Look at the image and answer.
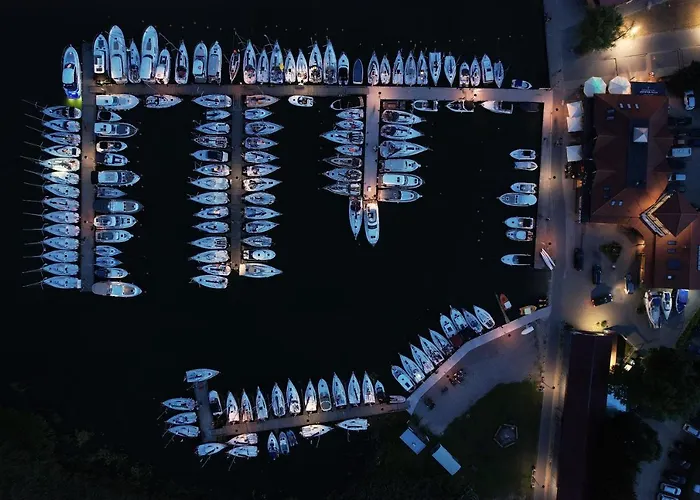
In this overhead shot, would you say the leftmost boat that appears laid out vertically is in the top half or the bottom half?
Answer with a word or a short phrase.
top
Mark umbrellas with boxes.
[567,116,582,132]
[566,146,582,161]
[583,76,606,98]
[608,75,630,94]
[567,100,583,116]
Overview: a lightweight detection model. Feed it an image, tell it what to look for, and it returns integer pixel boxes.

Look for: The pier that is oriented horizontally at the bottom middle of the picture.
[211,400,403,438]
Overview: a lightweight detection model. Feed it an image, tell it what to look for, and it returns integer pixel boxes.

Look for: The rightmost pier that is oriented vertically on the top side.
[364,98,379,200]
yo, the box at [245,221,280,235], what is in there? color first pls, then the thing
blue boat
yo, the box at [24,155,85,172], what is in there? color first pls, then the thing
white boat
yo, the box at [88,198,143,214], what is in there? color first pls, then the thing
blue boat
